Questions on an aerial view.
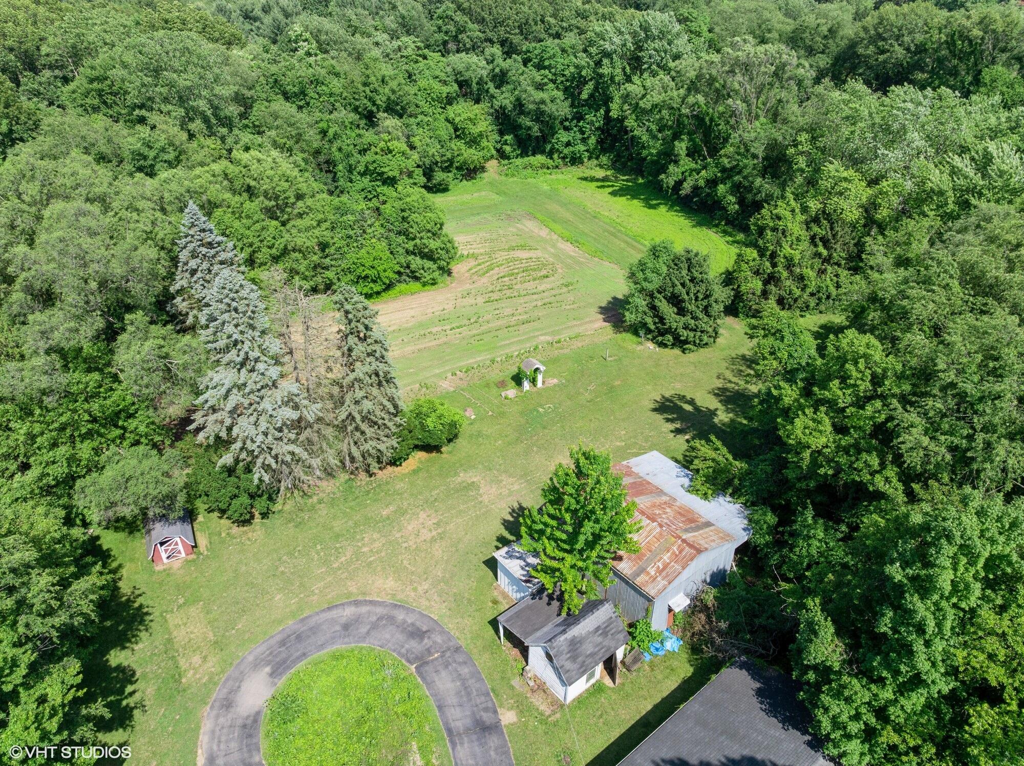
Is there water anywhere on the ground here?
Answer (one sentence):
No, the scene doesn't show any water.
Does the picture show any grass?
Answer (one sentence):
Yes, grass shows up in the scene.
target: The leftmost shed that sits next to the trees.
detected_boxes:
[144,503,195,566]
